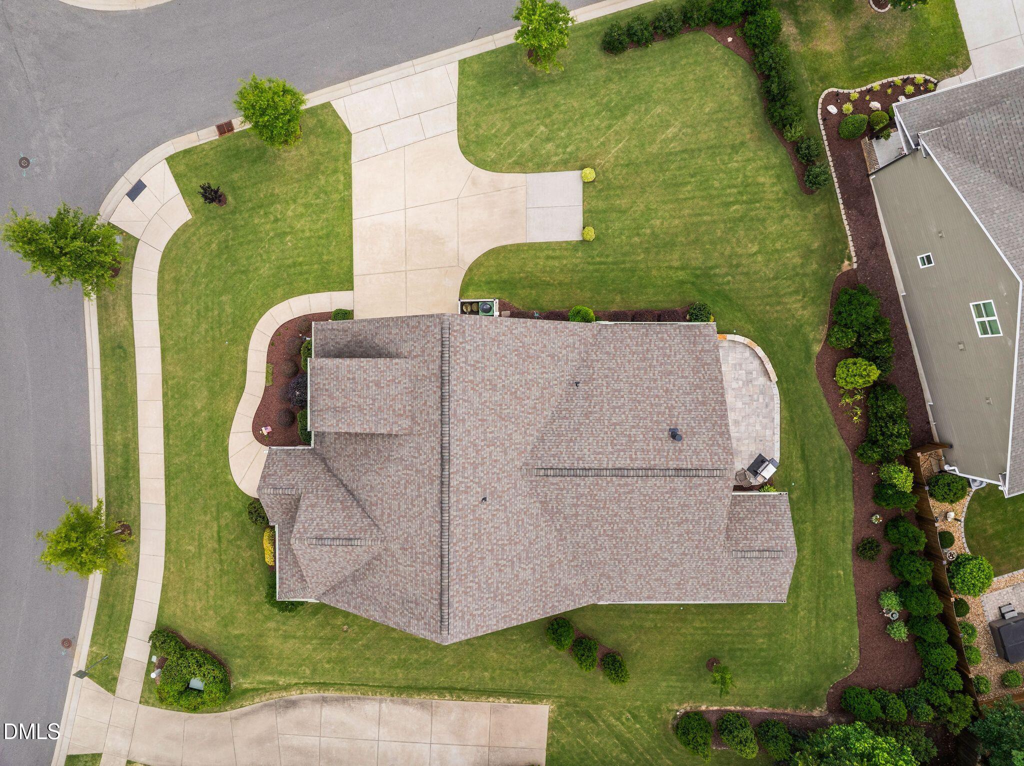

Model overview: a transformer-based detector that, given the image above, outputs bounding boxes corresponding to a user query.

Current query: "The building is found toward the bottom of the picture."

[259,314,795,644]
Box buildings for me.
[860,67,1024,498]
[259,314,795,644]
